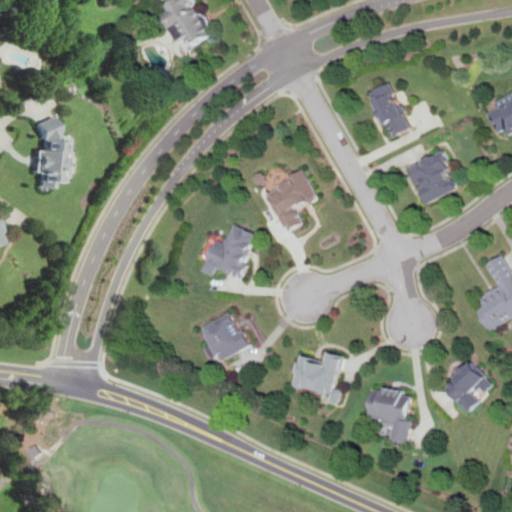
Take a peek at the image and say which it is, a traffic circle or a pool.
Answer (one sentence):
The one in the frame is a pool.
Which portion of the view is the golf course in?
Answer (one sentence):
Look in the bottom left portion of the view to spot the golf course.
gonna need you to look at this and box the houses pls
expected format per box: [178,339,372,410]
[38,114,66,194]
[445,361,494,412]
[293,352,343,404]
[203,312,250,360]
[366,388,410,444]
[368,82,410,138]
[477,256,512,330]
[485,96,512,140]
[406,146,458,206]
[158,0,210,56]
[200,226,254,278]
[266,169,318,232]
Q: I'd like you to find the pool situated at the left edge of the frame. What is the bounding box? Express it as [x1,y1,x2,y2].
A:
[0,43,42,70]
